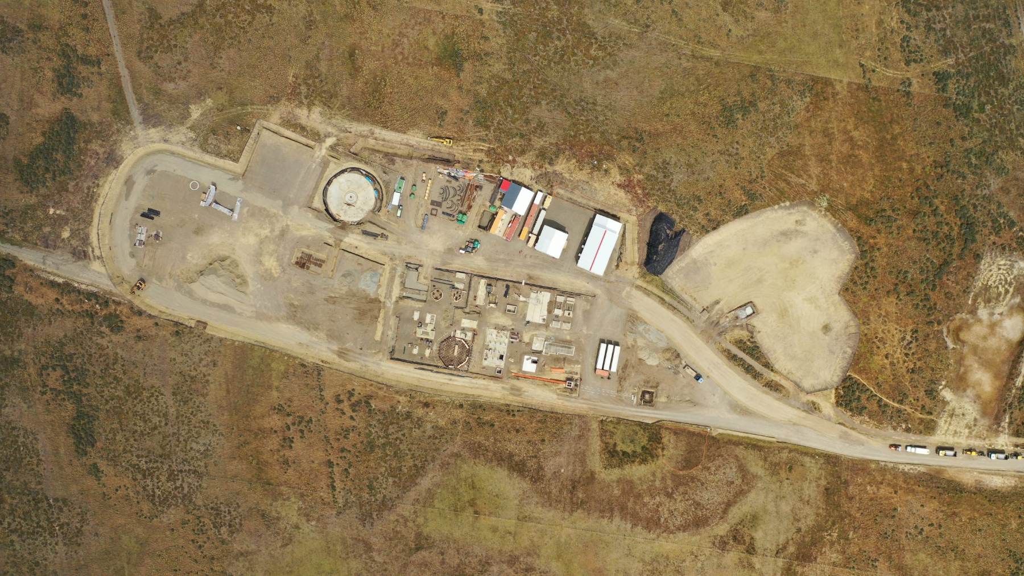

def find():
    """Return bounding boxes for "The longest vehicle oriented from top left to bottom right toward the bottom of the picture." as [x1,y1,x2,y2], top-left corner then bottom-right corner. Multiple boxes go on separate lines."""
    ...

[684,365,704,383]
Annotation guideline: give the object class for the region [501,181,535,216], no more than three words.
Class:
building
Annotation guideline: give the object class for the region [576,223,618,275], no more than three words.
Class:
shed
